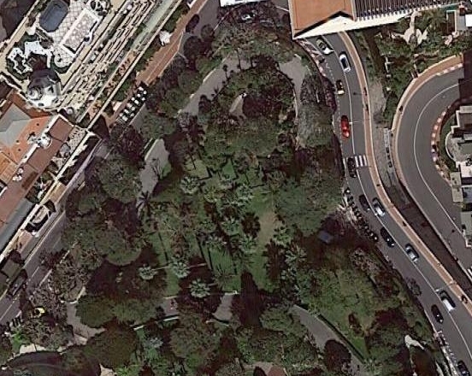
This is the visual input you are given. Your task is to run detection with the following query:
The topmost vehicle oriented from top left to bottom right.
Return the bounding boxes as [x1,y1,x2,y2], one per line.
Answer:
[317,37,332,55]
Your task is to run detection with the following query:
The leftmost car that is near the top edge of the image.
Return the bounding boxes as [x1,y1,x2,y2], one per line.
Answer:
[188,11,201,26]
